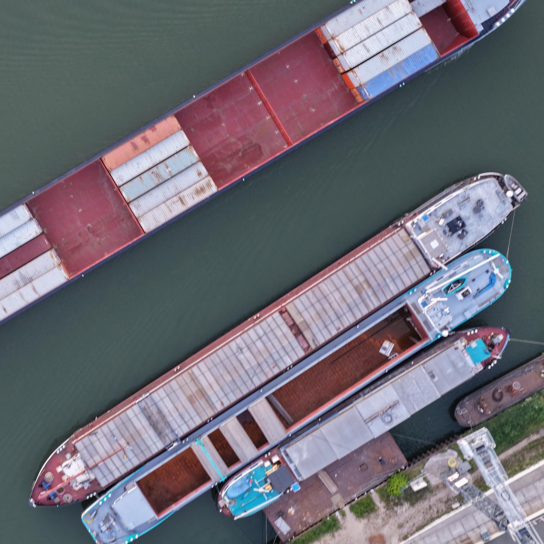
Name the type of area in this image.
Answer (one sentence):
It's a port.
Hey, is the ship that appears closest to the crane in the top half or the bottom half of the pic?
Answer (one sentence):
The ship that appears closest to the crane is in the bottom half of the image.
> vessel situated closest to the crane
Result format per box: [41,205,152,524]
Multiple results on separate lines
[452,352,544,427]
